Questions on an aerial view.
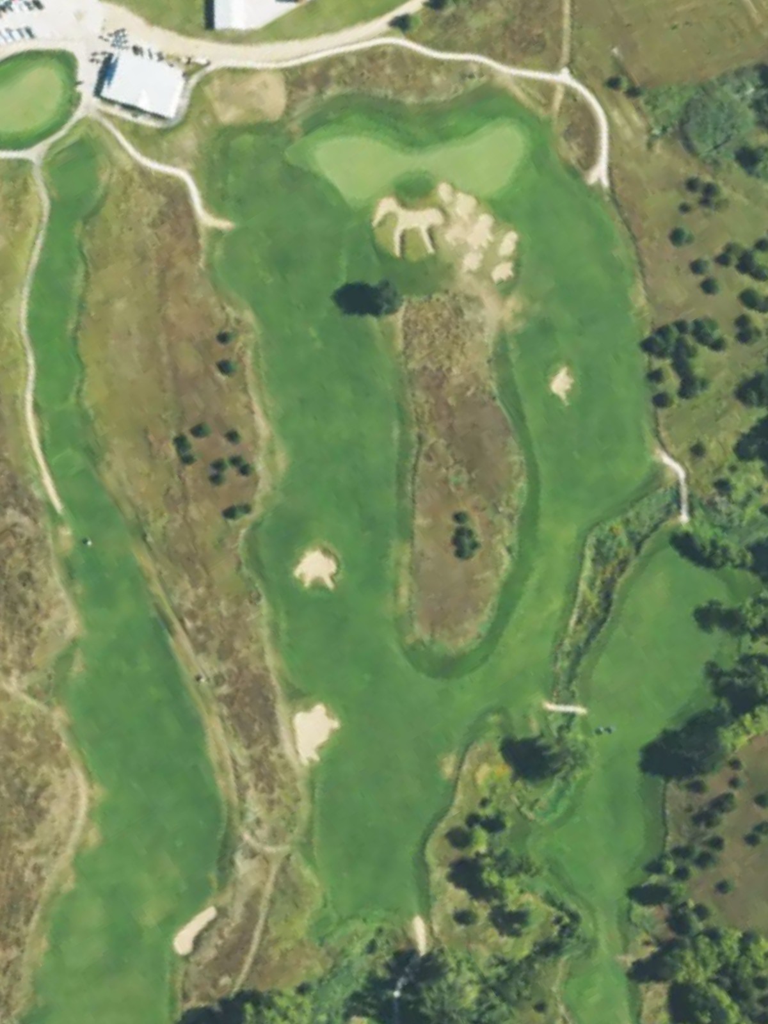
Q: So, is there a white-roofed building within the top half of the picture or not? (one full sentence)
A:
Yes, a white-roofed building can be seen within the top half of the picture.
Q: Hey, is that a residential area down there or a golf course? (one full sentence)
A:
The picture captures a golf course.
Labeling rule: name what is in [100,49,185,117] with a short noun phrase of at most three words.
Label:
building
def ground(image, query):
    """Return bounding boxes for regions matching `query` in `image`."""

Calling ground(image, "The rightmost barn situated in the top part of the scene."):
[213,0,246,28]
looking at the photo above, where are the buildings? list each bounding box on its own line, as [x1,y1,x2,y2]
[100,49,185,117]
[213,0,246,28]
